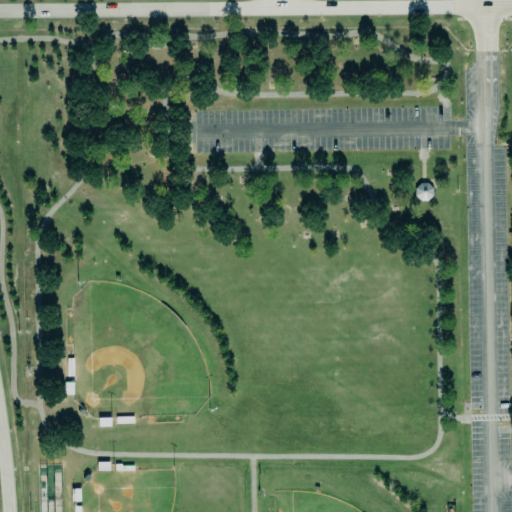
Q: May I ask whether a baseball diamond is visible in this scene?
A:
Yes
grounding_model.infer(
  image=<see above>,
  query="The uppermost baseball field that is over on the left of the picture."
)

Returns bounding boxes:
[66,280,210,423]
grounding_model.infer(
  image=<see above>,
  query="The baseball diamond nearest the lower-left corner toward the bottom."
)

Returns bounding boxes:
[84,468,176,512]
